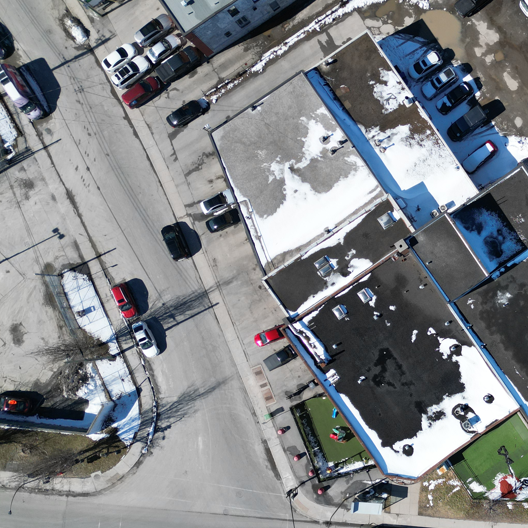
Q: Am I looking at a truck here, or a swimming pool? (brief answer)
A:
truck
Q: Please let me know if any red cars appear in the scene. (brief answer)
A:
Yes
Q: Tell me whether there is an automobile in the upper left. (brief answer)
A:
Yes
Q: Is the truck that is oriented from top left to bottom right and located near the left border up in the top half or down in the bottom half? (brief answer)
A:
top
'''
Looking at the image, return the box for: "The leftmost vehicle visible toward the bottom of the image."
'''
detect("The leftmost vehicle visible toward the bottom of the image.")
[0,394,31,412]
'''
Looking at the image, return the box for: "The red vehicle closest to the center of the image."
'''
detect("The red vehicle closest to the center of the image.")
[254,323,289,348]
